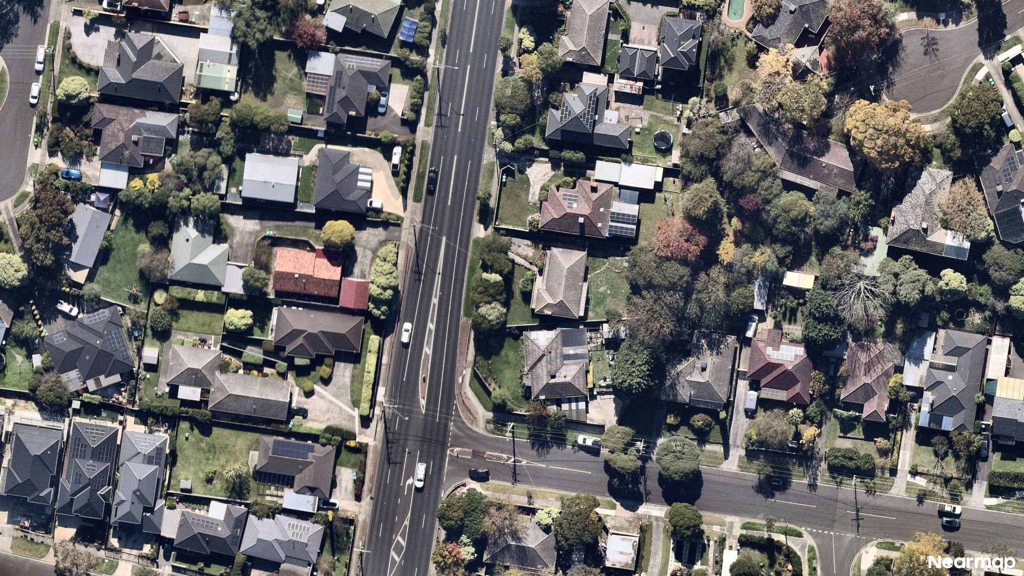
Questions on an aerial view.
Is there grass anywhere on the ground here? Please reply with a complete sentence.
Yes, grass shows up in the scene.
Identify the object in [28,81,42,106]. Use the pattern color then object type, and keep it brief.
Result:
white car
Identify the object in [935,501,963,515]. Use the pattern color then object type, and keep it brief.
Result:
white vehicle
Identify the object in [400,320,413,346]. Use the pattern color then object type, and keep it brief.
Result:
white vehicle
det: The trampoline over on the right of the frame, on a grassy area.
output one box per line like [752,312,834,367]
[654,129,673,148]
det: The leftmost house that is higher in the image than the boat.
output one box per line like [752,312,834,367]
[63,202,111,267]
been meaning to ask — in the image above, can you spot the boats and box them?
[55,299,81,315]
